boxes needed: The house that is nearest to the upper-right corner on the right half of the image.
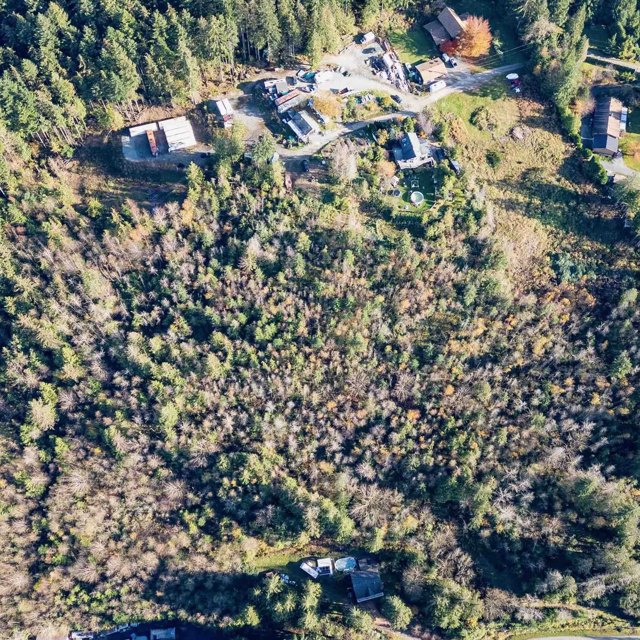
[591,95,623,138]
